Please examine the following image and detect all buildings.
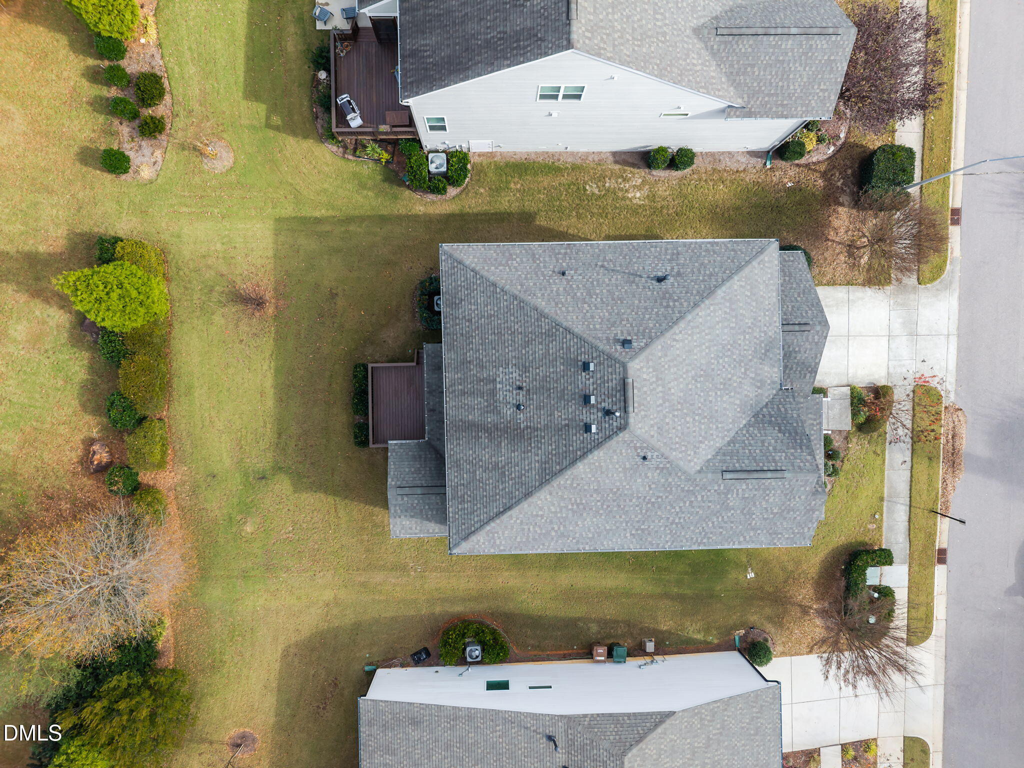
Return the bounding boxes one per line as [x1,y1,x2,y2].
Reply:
[354,0,855,161]
[388,236,832,558]
[356,644,786,768]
